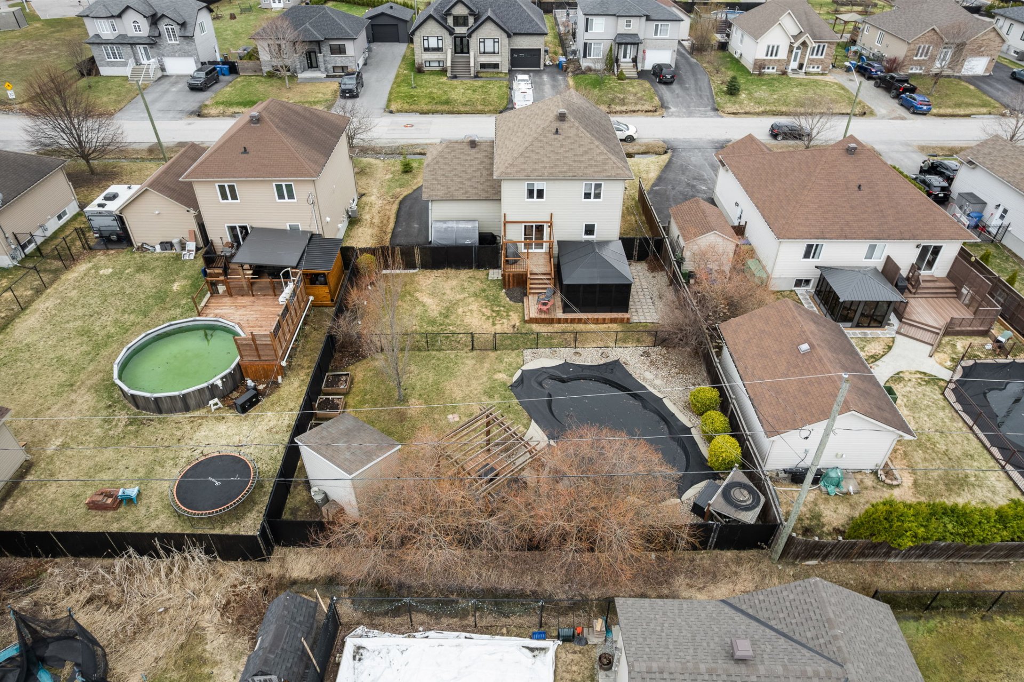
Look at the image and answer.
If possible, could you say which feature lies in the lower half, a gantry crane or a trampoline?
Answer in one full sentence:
The one visible in the lower half is a trampoline.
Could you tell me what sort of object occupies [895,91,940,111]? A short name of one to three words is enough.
car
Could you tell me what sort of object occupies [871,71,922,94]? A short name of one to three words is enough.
truck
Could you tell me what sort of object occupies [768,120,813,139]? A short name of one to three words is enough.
car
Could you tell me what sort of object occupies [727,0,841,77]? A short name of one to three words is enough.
house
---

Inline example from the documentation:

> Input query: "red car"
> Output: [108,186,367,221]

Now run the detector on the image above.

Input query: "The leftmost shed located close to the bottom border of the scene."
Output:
[241,586,328,682]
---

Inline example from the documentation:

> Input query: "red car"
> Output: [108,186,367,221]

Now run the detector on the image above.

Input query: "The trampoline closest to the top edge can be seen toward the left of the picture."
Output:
[171,453,263,528]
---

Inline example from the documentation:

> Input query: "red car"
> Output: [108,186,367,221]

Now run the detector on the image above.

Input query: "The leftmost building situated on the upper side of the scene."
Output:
[0,147,75,266]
